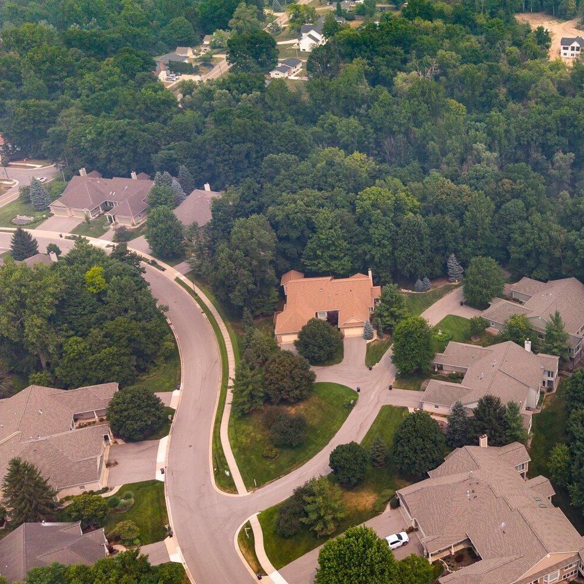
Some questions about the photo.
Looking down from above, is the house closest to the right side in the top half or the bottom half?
top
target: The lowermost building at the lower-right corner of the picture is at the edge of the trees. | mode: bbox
[394,433,584,584]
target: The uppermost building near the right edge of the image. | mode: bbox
[560,37,584,63]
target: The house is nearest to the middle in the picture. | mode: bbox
[273,267,380,343]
